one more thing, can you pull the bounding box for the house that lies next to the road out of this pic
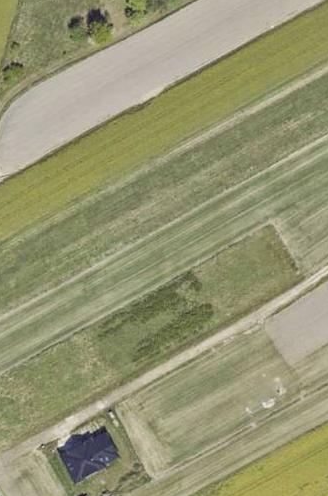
[59,427,117,484]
